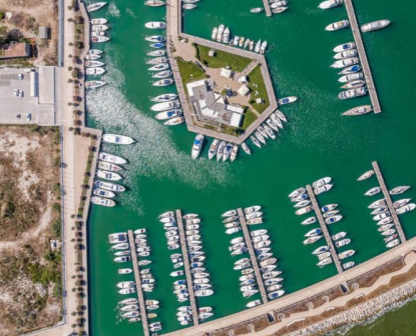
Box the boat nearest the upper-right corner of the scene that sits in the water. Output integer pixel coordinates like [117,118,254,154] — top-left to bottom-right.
[355,20,391,34]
